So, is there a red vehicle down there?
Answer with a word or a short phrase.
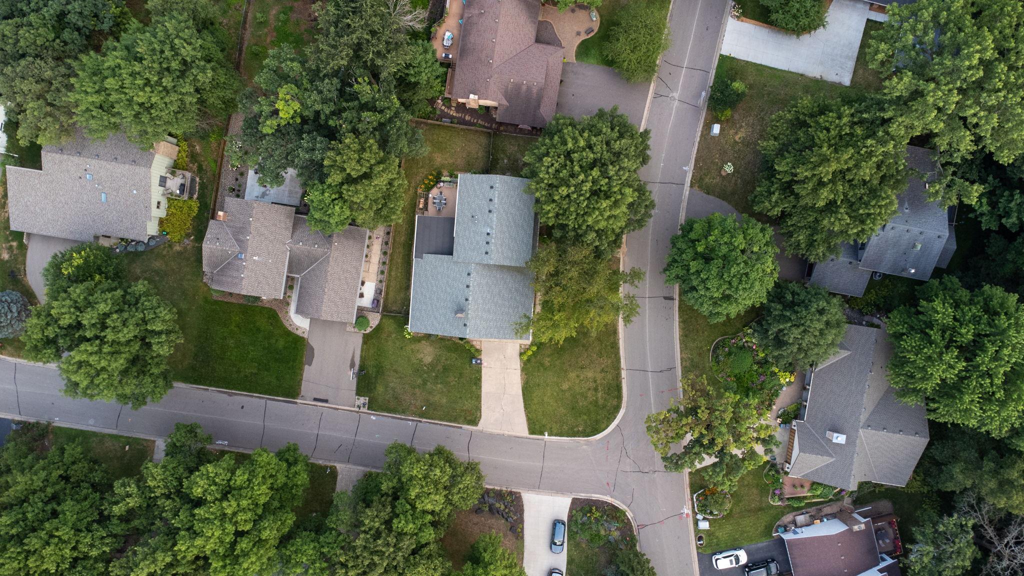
No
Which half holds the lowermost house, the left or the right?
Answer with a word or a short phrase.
right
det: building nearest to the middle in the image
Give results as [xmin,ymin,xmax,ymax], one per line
[406,174,536,344]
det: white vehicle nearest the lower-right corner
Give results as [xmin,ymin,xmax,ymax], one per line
[711,548,747,569]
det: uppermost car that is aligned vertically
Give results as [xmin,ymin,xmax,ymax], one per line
[549,518,567,554]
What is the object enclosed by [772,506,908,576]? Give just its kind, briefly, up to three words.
house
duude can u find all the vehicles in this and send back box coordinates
[549,518,567,554]
[738,559,779,576]
[711,548,747,569]
[549,565,564,576]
